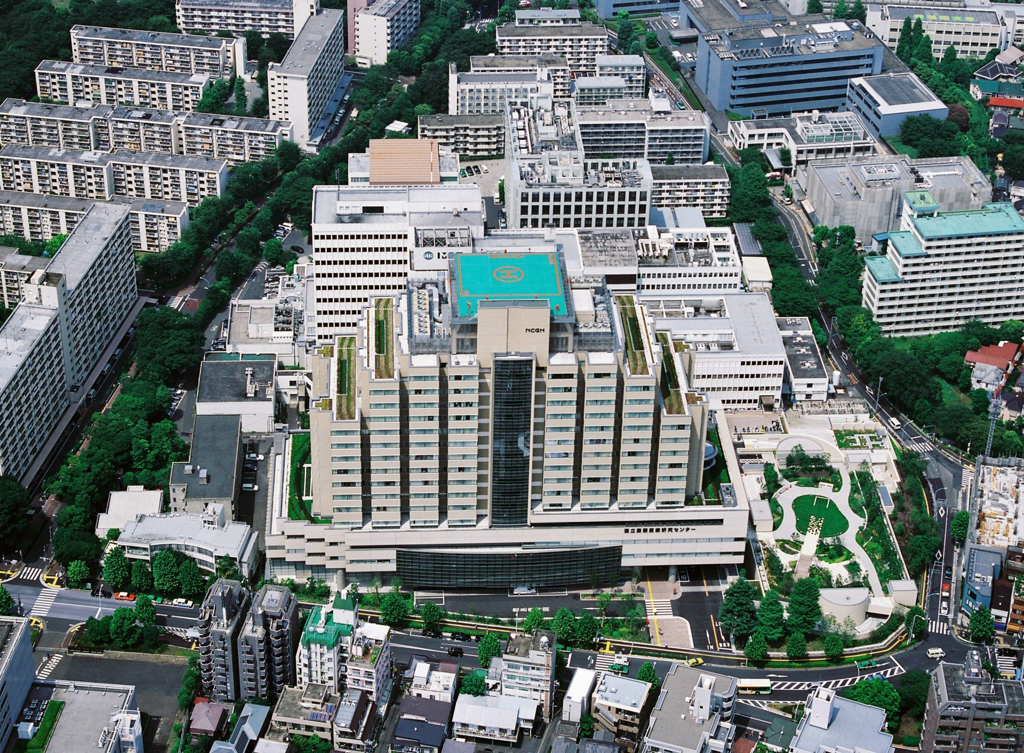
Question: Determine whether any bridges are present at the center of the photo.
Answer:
No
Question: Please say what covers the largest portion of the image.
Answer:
buildings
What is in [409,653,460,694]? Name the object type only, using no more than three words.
house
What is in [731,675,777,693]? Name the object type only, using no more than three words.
vehicle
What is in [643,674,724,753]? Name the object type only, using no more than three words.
building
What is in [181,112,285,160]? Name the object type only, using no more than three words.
building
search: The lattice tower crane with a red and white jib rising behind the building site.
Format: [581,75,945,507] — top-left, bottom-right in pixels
[987,287,1024,424]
